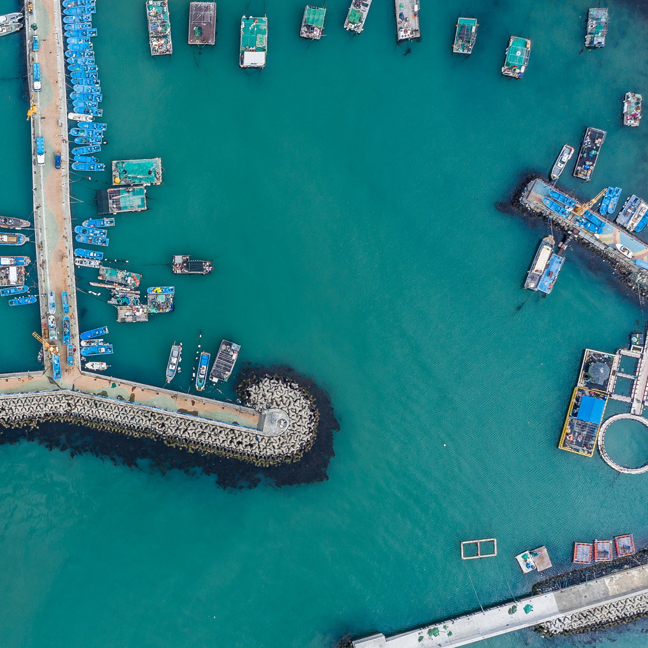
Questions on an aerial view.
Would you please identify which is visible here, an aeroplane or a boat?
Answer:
boat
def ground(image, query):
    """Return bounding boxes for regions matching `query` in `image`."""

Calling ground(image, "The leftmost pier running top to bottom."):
[25,0,80,395]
